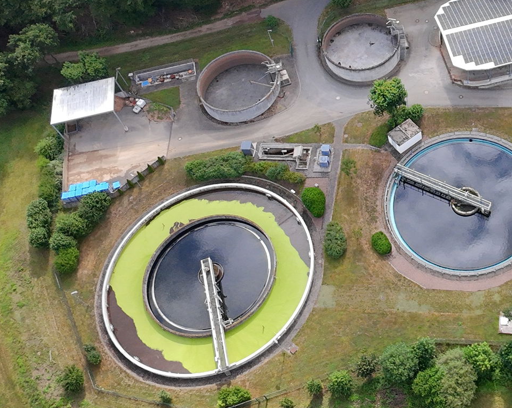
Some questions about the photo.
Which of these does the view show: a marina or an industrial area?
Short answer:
industrial area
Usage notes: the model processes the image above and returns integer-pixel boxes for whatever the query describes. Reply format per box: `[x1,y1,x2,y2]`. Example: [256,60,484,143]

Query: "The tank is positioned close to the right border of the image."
[386,132,512,277]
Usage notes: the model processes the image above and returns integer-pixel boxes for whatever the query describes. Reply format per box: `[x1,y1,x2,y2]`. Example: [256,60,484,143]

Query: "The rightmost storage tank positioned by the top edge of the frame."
[323,10,409,81]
